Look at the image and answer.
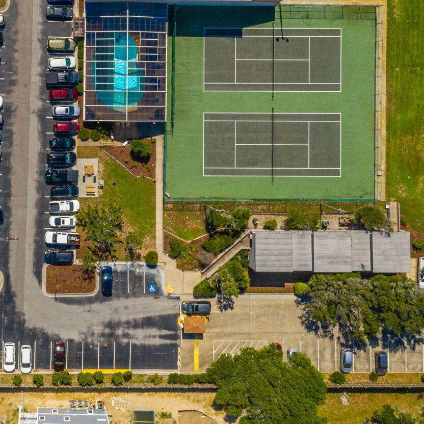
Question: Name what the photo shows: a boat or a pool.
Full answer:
There is a pool in the scene.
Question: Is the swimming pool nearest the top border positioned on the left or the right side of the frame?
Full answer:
The swimming pool nearest the top border is on the left side of the image.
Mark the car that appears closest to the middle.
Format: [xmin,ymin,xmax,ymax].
[180,301,212,316]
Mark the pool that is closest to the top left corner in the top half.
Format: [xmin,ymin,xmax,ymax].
[94,29,146,110]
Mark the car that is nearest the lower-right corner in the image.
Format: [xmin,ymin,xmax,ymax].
[374,350,388,374]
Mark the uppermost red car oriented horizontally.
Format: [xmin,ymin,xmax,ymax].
[50,88,77,101]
